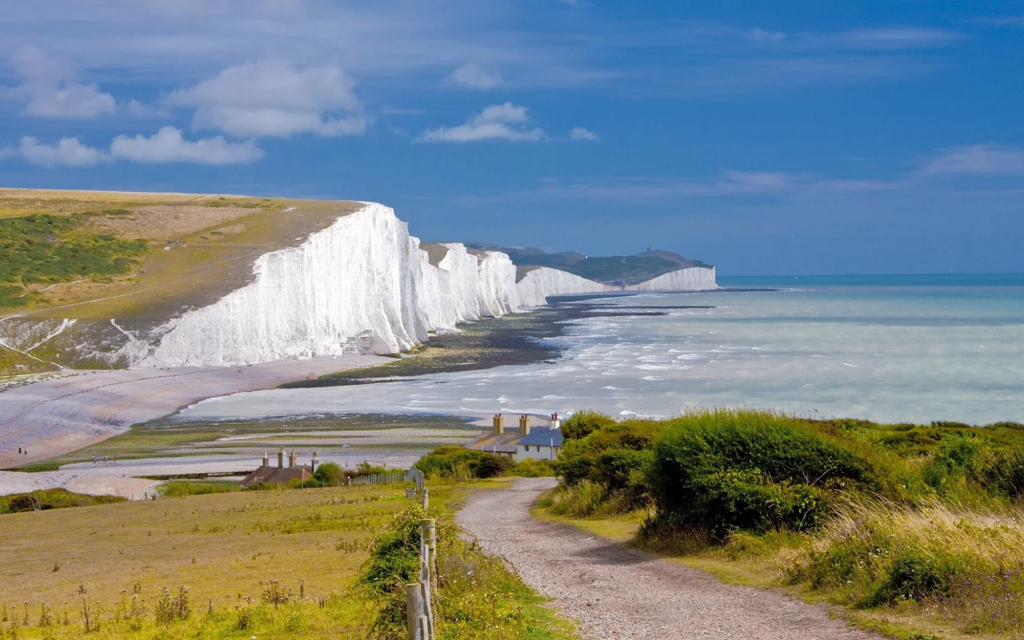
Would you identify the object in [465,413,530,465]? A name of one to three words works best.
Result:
house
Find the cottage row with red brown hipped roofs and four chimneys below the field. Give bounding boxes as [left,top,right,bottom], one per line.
[243,448,322,493]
